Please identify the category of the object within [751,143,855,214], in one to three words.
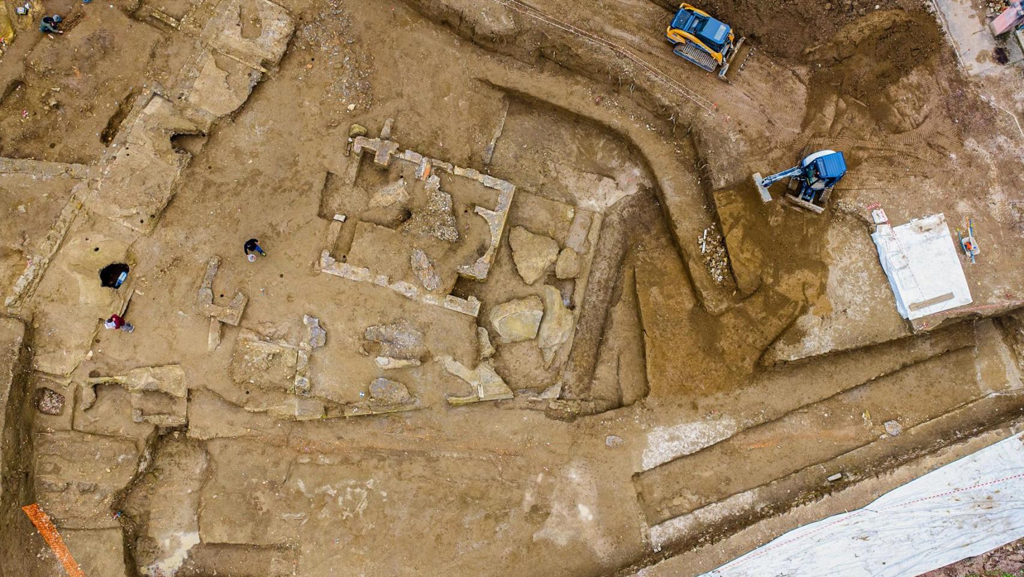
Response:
work vehicle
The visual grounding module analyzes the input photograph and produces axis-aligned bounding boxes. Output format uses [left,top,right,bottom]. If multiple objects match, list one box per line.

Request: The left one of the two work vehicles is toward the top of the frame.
[658,0,755,89]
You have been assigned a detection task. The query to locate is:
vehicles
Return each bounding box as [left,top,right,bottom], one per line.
[751,143,855,214]
[658,0,755,89]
